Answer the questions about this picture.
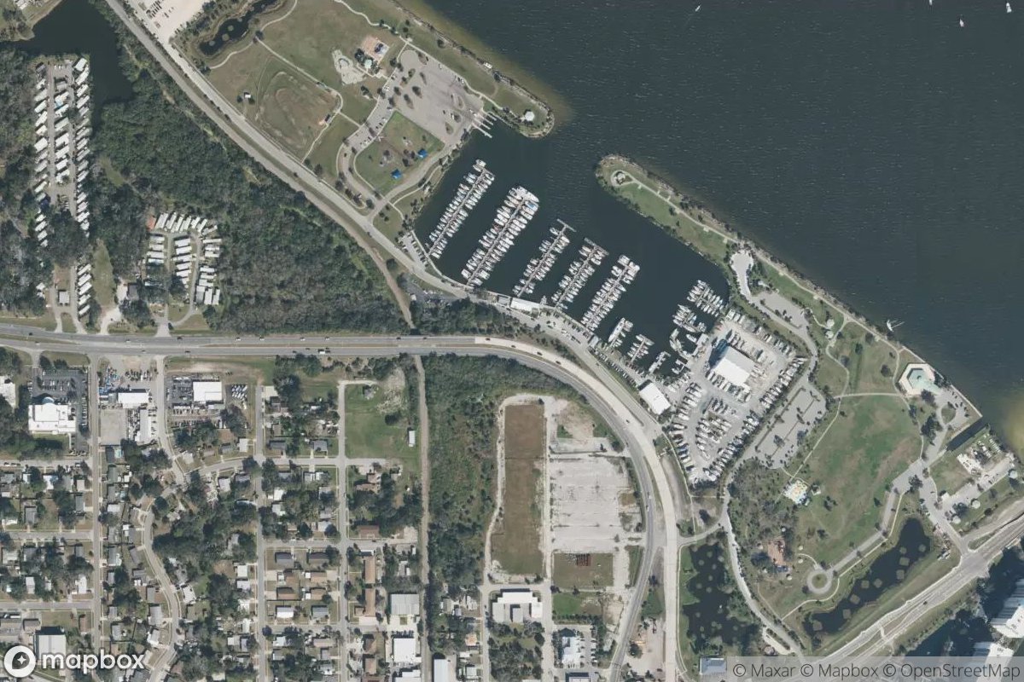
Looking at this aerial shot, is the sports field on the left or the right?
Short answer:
left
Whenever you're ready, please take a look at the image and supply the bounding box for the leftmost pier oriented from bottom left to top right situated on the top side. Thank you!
[424,166,495,255]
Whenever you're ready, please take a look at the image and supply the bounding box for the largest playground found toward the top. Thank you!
[361,36,390,62]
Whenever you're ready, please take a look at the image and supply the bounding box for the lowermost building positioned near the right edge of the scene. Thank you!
[965,640,1013,682]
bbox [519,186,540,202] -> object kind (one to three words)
boat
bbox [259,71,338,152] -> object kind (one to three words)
sports field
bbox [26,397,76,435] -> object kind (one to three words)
building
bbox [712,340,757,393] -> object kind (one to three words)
shed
